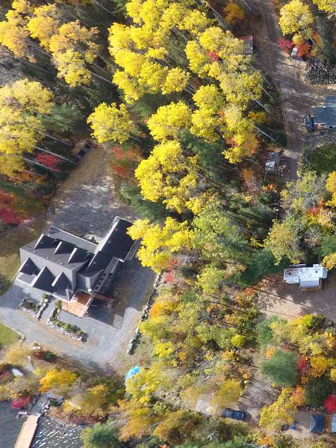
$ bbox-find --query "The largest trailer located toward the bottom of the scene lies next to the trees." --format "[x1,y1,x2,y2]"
[278,263,327,295]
